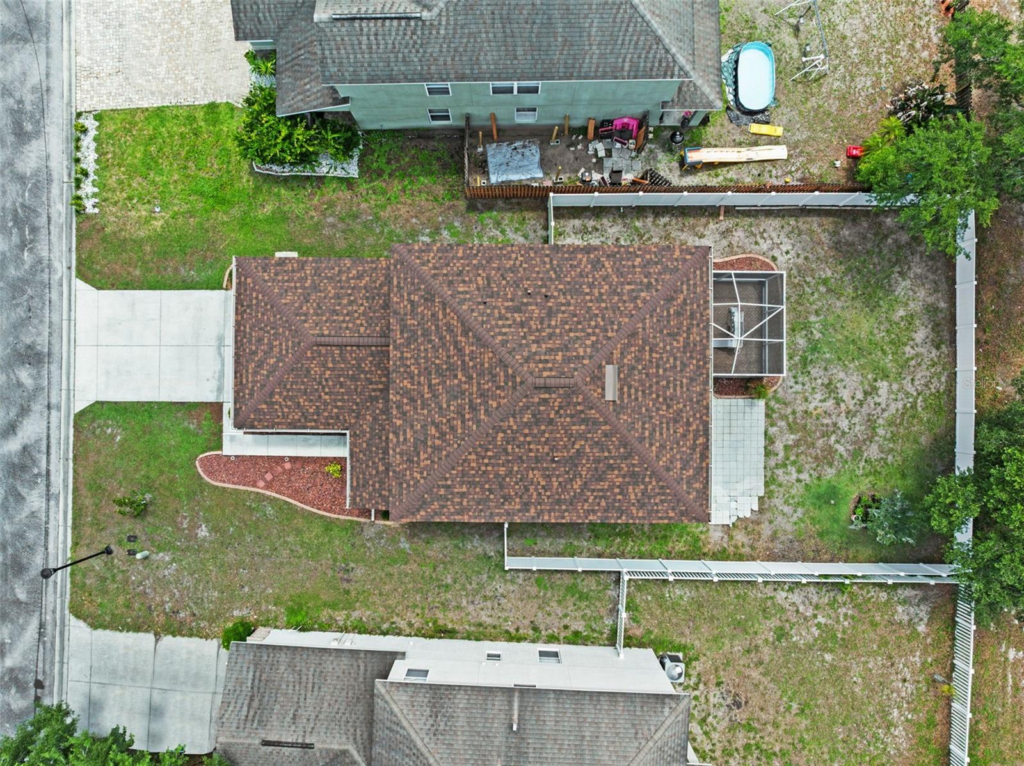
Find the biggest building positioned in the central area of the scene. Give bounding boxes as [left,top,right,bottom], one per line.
[231,242,713,525]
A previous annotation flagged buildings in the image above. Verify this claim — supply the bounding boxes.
[234,0,724,129]
[231,242,713,525]
[211,631,712,766]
